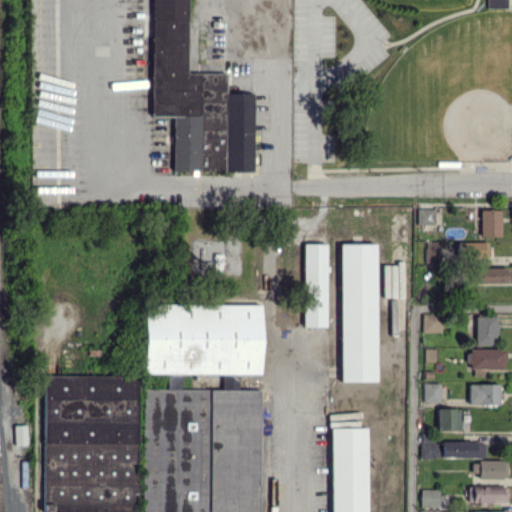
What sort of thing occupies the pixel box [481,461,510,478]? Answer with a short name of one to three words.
house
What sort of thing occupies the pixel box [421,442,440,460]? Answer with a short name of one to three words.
building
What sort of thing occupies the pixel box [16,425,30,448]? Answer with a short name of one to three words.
shed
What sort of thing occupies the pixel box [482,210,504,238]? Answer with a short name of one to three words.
house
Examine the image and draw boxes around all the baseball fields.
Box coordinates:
[366,12,512,162]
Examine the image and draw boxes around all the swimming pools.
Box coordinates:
[446,228,468,240]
